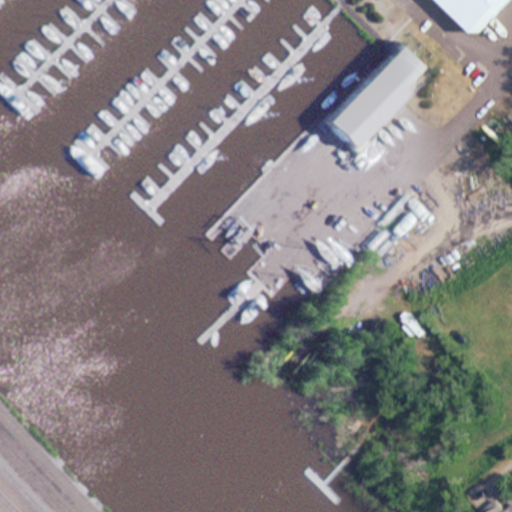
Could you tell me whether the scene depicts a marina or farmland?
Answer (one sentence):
This looks like a marina.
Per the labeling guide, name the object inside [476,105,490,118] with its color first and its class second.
white vehicle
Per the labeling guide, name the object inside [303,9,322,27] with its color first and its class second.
white boat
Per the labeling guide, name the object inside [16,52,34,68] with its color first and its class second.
white boat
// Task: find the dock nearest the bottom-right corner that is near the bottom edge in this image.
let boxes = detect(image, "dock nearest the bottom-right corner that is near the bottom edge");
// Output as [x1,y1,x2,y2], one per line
[304,458,350,505]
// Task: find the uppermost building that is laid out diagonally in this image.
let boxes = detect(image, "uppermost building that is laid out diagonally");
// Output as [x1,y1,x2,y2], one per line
[324,44,428,148]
